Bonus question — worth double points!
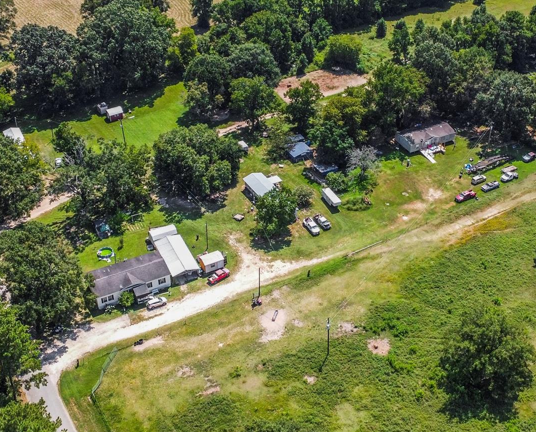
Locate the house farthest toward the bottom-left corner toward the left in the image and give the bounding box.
[88,256,171,309]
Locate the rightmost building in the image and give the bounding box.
[397,121,457,160]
